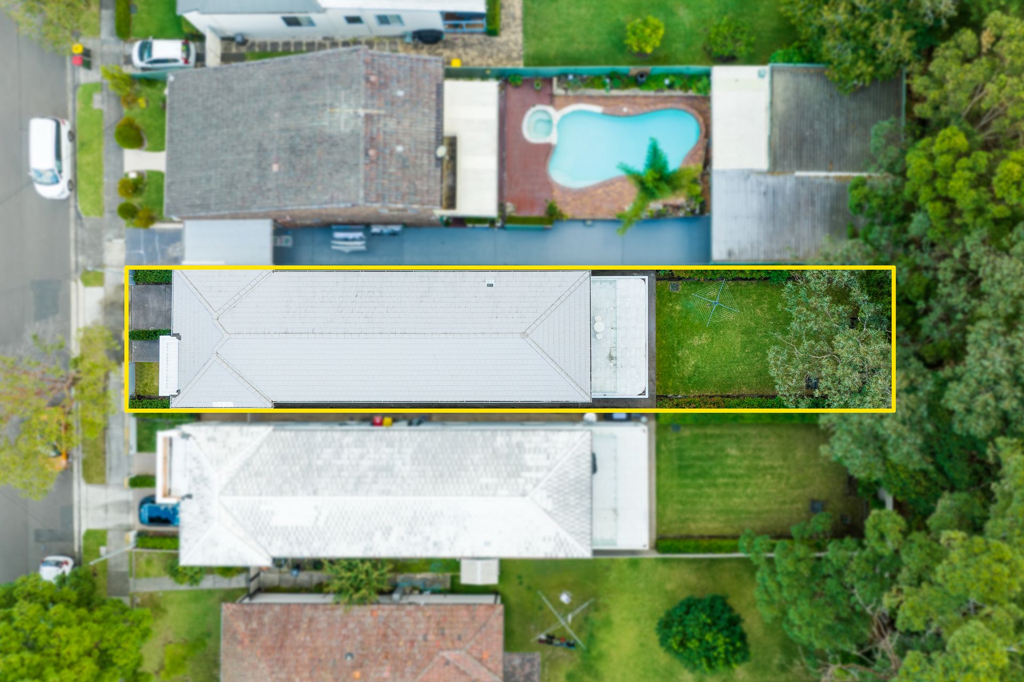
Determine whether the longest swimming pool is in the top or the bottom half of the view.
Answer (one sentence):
It is in the top half that the longest swimming pool appears.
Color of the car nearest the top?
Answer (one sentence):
In this view, the car nearest the top is white.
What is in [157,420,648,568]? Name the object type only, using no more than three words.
house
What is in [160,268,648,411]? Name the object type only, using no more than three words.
house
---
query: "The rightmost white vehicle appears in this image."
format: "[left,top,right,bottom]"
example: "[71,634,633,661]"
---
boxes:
[135,35,200,70]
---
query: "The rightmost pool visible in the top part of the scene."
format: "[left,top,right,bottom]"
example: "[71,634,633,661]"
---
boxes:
[547,103,705,193]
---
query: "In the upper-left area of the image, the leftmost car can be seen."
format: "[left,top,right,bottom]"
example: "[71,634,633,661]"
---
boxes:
[28,121,73,200]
